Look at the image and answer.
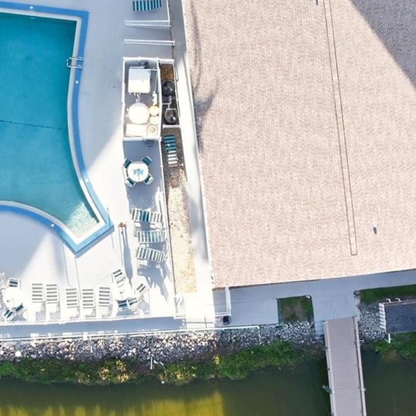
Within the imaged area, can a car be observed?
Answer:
No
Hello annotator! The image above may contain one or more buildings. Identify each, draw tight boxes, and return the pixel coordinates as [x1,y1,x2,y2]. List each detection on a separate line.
[376,299,416,341]
[181,0,416,289]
